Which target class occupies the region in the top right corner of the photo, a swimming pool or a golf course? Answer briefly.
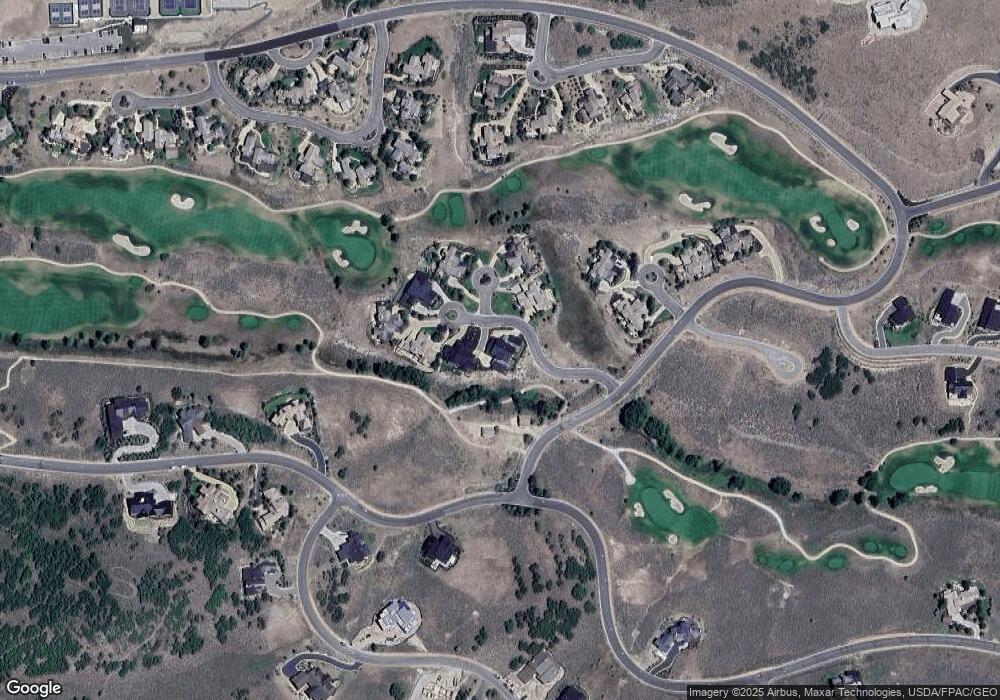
golf course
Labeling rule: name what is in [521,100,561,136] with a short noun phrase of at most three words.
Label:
house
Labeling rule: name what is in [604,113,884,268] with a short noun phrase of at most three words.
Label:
golf course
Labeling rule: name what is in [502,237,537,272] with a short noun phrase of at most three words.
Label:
house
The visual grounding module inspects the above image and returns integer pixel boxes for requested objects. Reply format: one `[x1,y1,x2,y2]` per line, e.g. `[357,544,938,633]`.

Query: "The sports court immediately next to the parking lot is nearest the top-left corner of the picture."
[49,3,73,23]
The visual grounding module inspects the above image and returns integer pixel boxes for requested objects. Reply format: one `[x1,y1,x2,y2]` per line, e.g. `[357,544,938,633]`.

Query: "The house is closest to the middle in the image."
[485,334,523,372]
